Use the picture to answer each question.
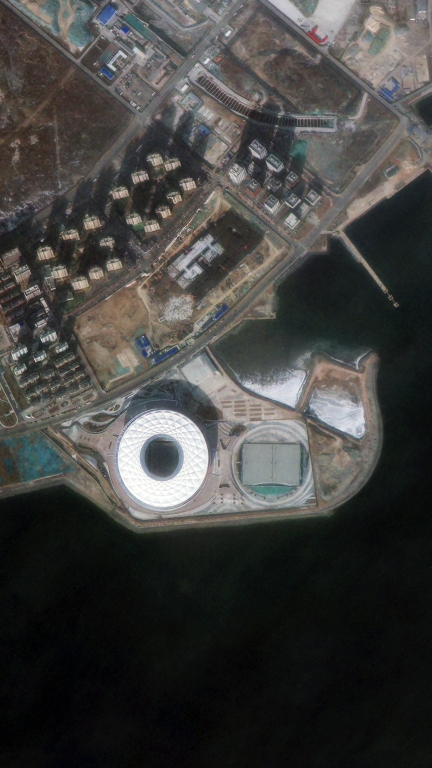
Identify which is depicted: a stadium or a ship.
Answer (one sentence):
Visible in the photo is a stadium.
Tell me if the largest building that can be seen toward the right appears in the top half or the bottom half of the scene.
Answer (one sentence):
The largest building that can be seen toward the right sits in the top half of the picture.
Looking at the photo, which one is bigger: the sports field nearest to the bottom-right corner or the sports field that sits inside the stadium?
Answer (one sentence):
Compared with the sports field that sits inside the stadium, the sports field nearest to the bottom-right corner is the larger one.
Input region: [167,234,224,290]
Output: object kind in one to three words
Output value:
building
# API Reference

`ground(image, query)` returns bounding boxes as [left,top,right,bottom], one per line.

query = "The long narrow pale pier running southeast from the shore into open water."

[340,231,386,290]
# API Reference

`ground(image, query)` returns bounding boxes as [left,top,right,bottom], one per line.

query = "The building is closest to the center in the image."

[181,354,217,388]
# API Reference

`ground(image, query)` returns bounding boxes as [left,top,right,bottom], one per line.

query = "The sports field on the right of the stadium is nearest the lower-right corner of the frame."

[230,420,315,506]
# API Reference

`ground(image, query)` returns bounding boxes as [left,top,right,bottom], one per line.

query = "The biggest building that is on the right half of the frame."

[187,65,337,131]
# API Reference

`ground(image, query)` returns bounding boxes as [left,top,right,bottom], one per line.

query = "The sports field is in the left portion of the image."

[148,443,176,477]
